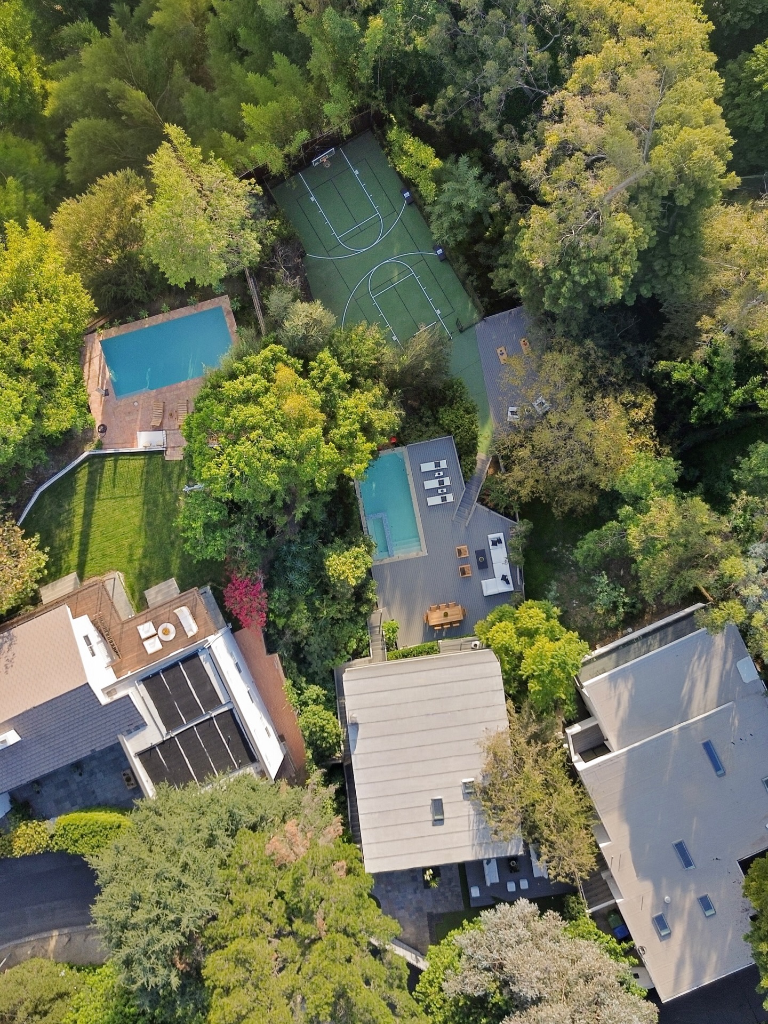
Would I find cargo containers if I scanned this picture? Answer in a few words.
No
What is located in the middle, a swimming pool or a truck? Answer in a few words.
swimming pool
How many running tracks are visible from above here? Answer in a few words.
0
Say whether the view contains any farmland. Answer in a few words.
No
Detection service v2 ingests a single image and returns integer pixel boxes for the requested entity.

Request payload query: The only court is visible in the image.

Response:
[271,133,491,456]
